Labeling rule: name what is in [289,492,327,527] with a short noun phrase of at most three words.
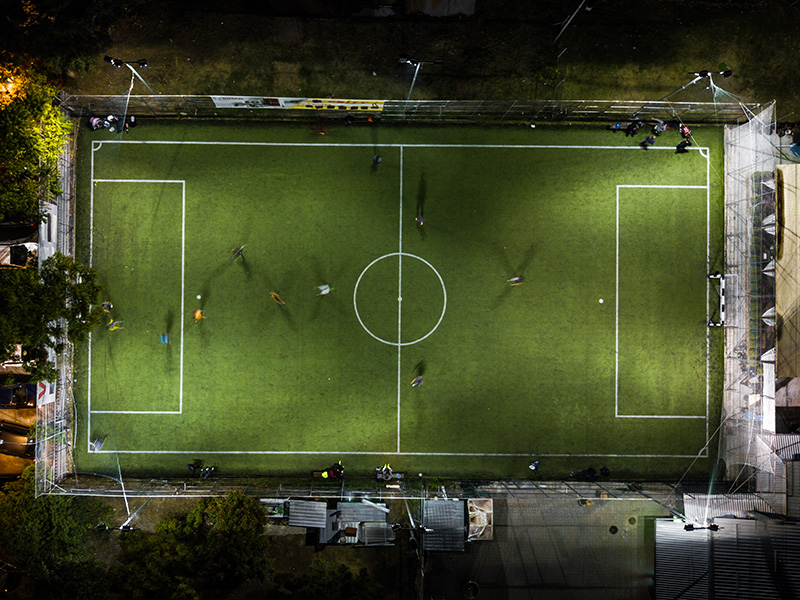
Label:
shed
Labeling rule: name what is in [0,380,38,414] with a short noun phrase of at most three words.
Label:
car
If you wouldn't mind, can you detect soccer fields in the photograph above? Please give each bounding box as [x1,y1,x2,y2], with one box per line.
[74,120,724,480]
